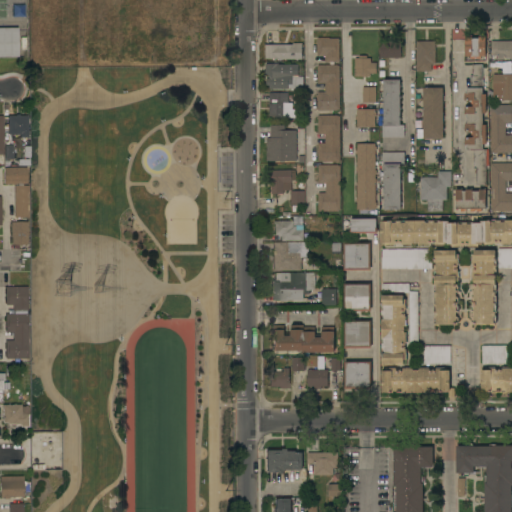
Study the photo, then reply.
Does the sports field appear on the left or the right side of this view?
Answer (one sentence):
The sports field is on the left side of the image.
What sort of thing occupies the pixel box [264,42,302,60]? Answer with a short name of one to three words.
house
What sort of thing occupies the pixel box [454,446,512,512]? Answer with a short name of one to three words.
building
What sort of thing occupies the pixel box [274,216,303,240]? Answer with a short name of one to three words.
house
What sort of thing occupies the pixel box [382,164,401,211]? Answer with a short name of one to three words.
building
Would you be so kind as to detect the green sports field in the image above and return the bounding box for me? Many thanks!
[134,328,186,512]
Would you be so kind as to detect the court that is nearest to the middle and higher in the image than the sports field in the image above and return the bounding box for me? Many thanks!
[166,196,199,244]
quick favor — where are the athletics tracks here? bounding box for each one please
[126,318,195,512]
